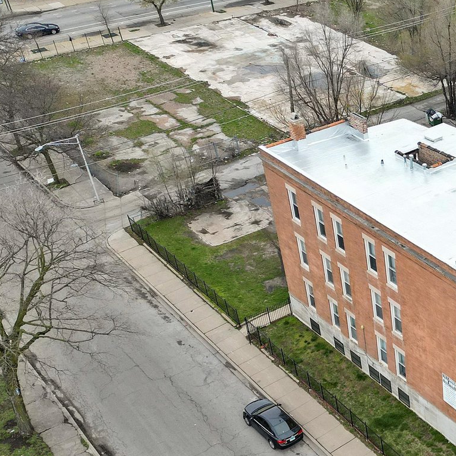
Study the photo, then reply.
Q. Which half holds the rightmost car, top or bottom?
bottom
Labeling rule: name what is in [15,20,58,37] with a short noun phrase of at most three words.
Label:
car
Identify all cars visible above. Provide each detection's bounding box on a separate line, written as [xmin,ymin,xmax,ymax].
[15,20,58,37]
[241,399,307,456]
